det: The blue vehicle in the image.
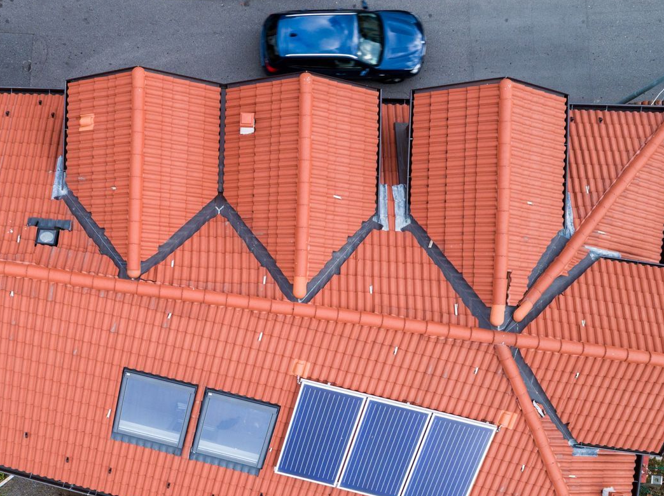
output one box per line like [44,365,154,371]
[261,1,422,87]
